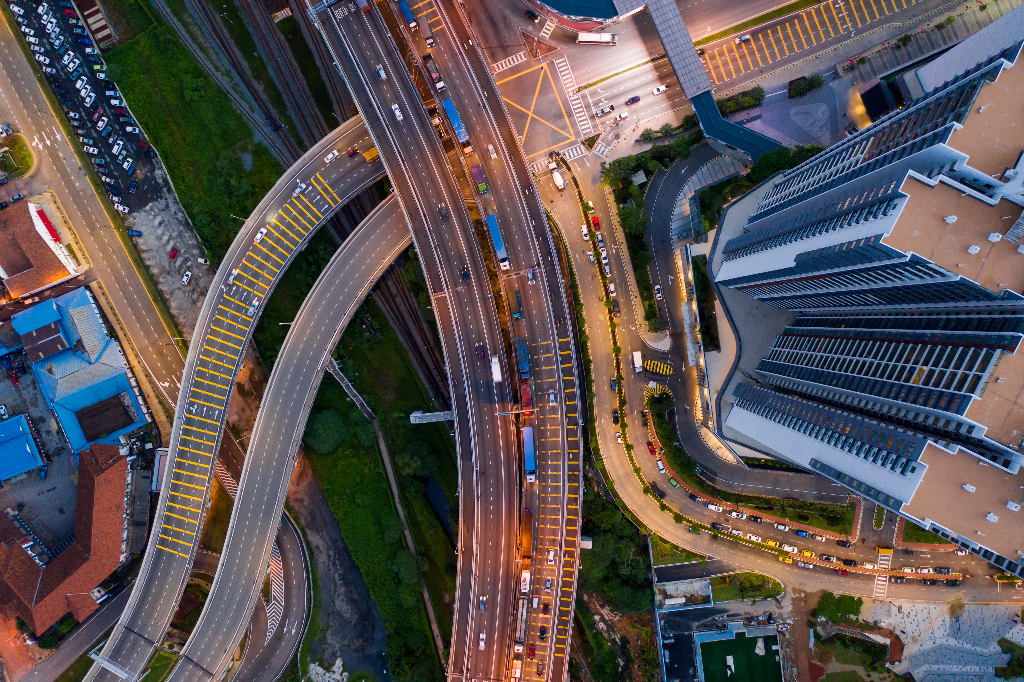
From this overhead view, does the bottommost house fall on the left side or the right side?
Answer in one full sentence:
You can find the bottommost house on the right side of the picture.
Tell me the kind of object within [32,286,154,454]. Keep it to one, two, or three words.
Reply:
house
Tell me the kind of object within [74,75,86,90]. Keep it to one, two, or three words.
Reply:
vehicle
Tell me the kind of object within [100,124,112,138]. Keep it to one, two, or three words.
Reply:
vehicle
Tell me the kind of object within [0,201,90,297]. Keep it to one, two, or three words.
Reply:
house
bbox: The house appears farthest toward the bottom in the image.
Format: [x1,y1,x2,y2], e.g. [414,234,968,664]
[692,618,783,682]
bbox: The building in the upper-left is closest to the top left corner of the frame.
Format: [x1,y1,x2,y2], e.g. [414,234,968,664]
[75,0,121,53]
